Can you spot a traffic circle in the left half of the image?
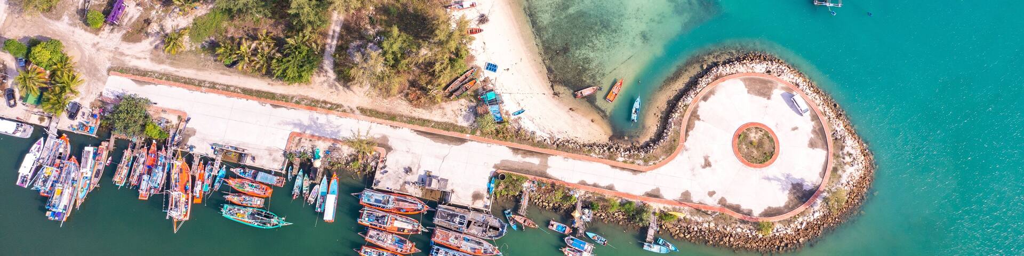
No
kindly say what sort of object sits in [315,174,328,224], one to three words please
boat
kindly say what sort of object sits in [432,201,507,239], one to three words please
ship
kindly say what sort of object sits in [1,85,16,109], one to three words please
vehicle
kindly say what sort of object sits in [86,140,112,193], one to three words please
boat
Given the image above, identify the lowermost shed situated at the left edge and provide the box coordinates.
[14,88,44,106]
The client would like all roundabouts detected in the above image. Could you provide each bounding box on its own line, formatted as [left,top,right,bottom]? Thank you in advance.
[732,122,779,168]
